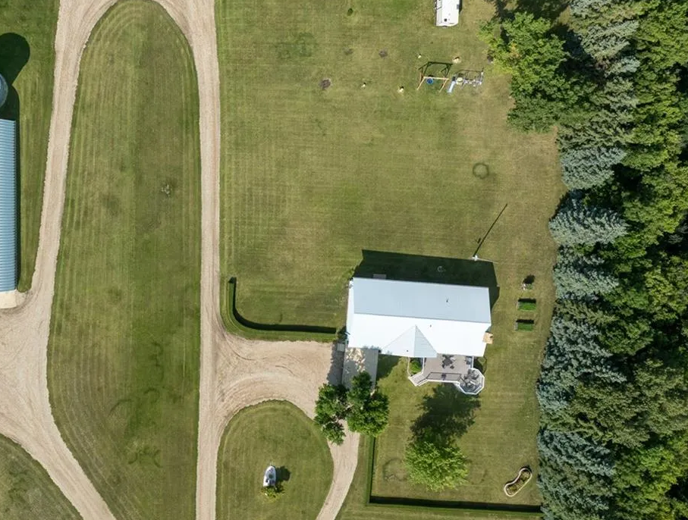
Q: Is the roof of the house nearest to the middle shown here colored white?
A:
Yes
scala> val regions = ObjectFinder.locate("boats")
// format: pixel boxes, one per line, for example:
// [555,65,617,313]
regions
[263,462,276,487]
